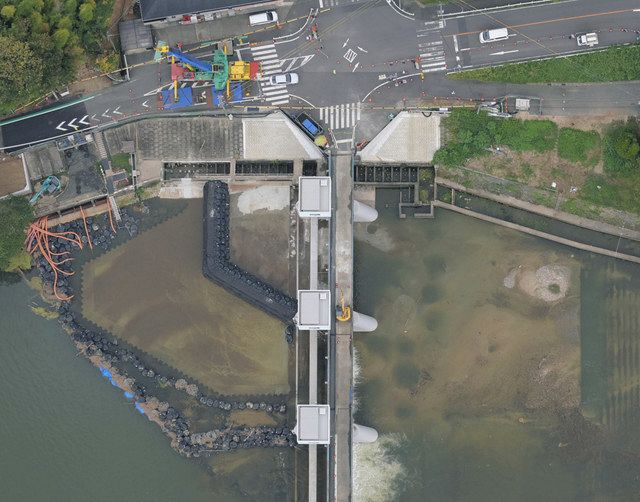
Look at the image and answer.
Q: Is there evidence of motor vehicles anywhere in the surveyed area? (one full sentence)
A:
Yes, looking at the shot, I can spot a motor vehicle.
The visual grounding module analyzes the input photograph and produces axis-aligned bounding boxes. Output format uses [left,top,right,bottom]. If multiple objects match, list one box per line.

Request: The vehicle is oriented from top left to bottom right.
[294,111,325,139]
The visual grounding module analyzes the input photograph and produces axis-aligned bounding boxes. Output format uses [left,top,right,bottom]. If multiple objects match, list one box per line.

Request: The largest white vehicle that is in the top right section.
[478,26,509,44]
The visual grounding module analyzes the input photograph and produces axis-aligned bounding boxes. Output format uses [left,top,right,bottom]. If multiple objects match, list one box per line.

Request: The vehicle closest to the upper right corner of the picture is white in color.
[576,33,599,46]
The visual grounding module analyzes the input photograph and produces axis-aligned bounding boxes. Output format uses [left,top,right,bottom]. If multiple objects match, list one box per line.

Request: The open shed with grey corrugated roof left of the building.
[119,18,154,56]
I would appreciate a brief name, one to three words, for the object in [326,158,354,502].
bridge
